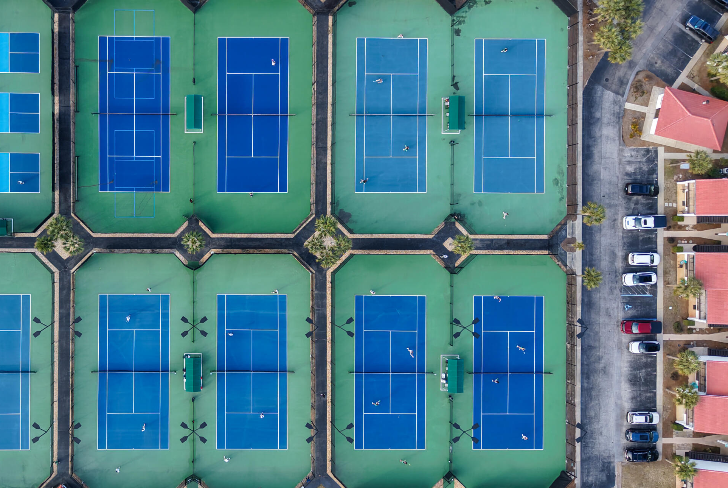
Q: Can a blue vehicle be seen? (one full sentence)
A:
Yes, I can see a blue vehicle in this picture.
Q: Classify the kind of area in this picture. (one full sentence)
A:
It's a sports ground.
